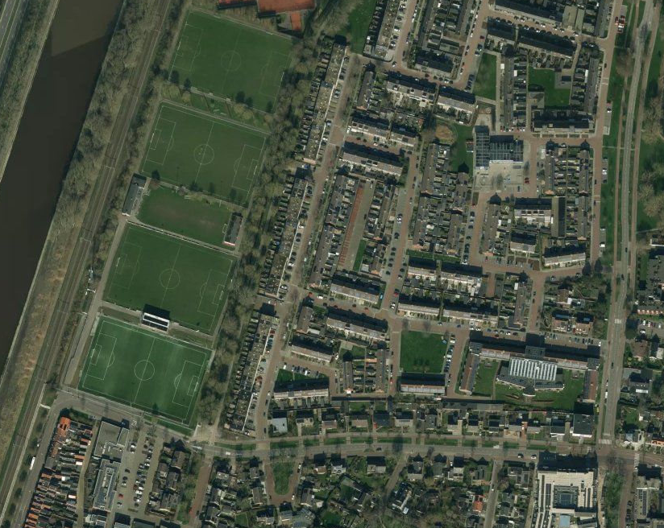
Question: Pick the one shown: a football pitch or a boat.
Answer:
football pitch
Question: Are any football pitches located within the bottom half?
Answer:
Yes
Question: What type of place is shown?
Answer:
residential area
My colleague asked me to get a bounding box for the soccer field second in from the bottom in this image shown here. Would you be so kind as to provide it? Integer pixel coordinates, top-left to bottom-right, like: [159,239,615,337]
[103,225,234,332]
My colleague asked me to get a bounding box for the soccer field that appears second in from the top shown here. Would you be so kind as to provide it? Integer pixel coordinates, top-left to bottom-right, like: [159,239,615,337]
[145,104,266,205]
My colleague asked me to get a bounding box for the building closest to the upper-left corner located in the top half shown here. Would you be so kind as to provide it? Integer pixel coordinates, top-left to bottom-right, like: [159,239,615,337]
[123,175,148,214]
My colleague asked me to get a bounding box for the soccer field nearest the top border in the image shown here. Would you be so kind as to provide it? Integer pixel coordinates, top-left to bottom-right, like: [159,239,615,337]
[167,9,295,114]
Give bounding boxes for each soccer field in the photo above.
[76,316,212,425]
[103,225,234,332]
[167,9,295,114]
[145,104,266,205]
